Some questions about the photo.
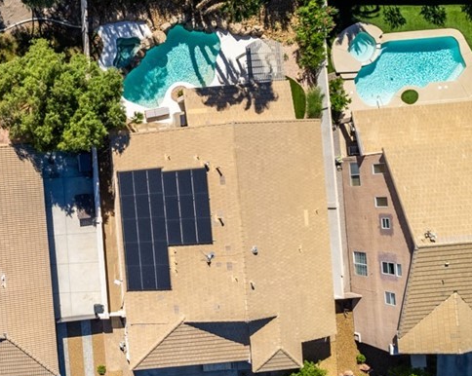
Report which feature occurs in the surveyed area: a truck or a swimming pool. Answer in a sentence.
The image shows a swimming pool.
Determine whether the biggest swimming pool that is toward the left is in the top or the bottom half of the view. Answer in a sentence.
It is in the top half that the biggest swimming pool that is toward the left appears.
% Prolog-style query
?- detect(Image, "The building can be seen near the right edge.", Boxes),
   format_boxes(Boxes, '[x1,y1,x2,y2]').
[337,97,472,360]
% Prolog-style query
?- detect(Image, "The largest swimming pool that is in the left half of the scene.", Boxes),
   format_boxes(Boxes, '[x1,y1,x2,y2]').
[123,25,220,107]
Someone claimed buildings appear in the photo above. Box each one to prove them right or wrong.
[0,144,61,376]
[112,79,337,375]
[337,97,472,360]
